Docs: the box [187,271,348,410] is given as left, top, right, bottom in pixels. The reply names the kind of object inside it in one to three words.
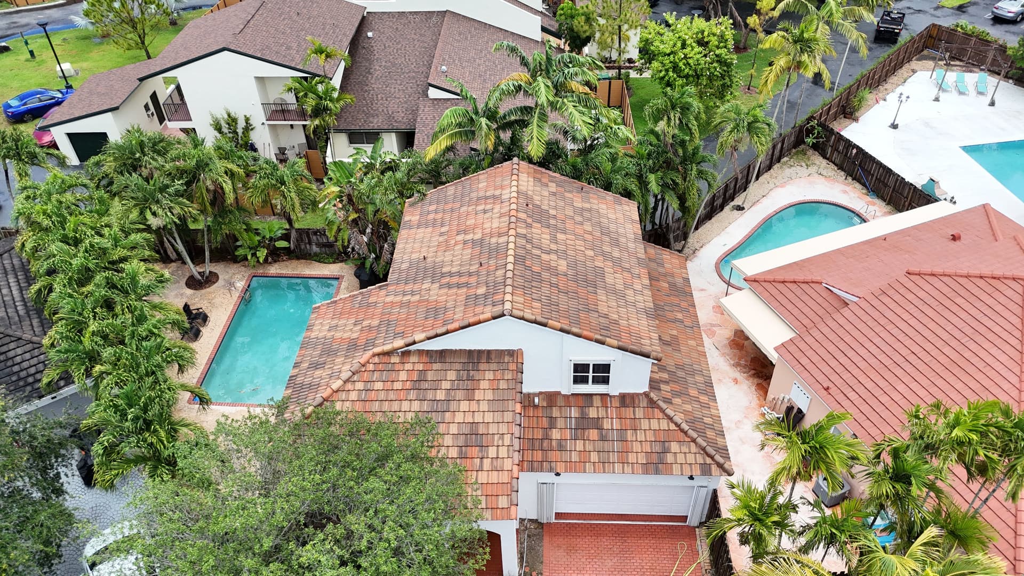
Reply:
swimming pool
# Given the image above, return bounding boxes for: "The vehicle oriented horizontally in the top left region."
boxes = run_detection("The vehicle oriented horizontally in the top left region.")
[0,87,73,121]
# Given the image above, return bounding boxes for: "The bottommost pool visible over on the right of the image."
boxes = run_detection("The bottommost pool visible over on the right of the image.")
[715,198,870,292]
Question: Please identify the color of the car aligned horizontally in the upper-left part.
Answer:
blue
